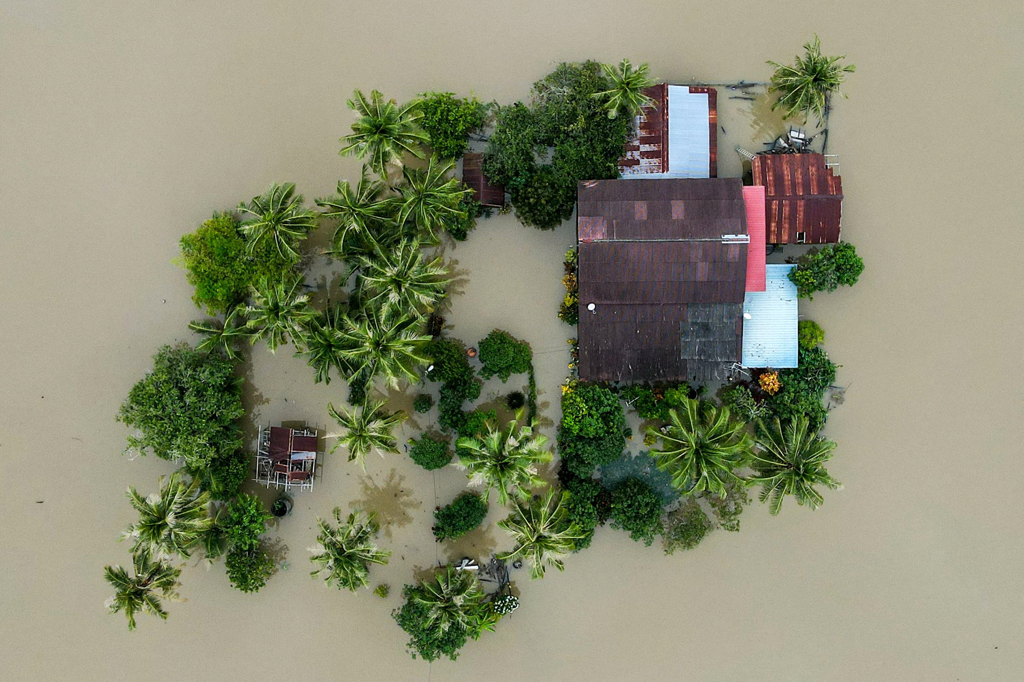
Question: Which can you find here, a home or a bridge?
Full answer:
The one in the frame is a home.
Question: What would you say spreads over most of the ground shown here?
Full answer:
The bulk of the photo consists of water.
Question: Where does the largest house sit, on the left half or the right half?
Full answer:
The largest house appears in the right half of the scene.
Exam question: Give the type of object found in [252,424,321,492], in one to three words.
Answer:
shed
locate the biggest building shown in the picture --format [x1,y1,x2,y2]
[576,178,799,382]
